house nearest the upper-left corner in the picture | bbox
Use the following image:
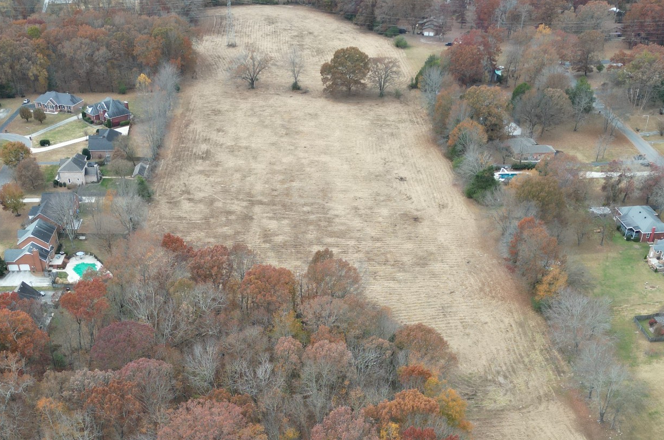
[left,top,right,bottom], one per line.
[31,90,84,111]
